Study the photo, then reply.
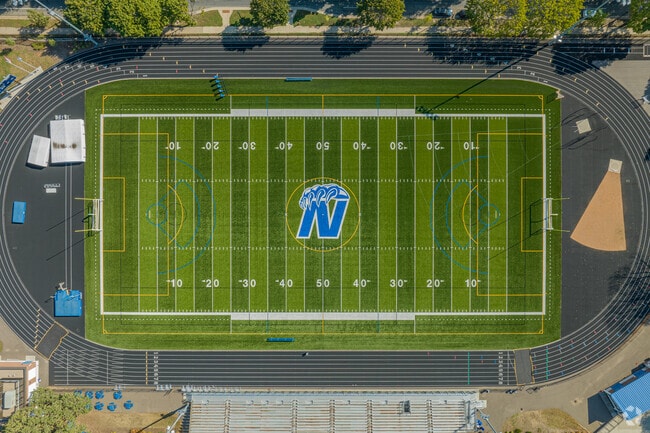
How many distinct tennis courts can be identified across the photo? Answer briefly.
0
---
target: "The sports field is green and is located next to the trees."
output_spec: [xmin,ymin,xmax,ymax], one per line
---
[84,79,561,350]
